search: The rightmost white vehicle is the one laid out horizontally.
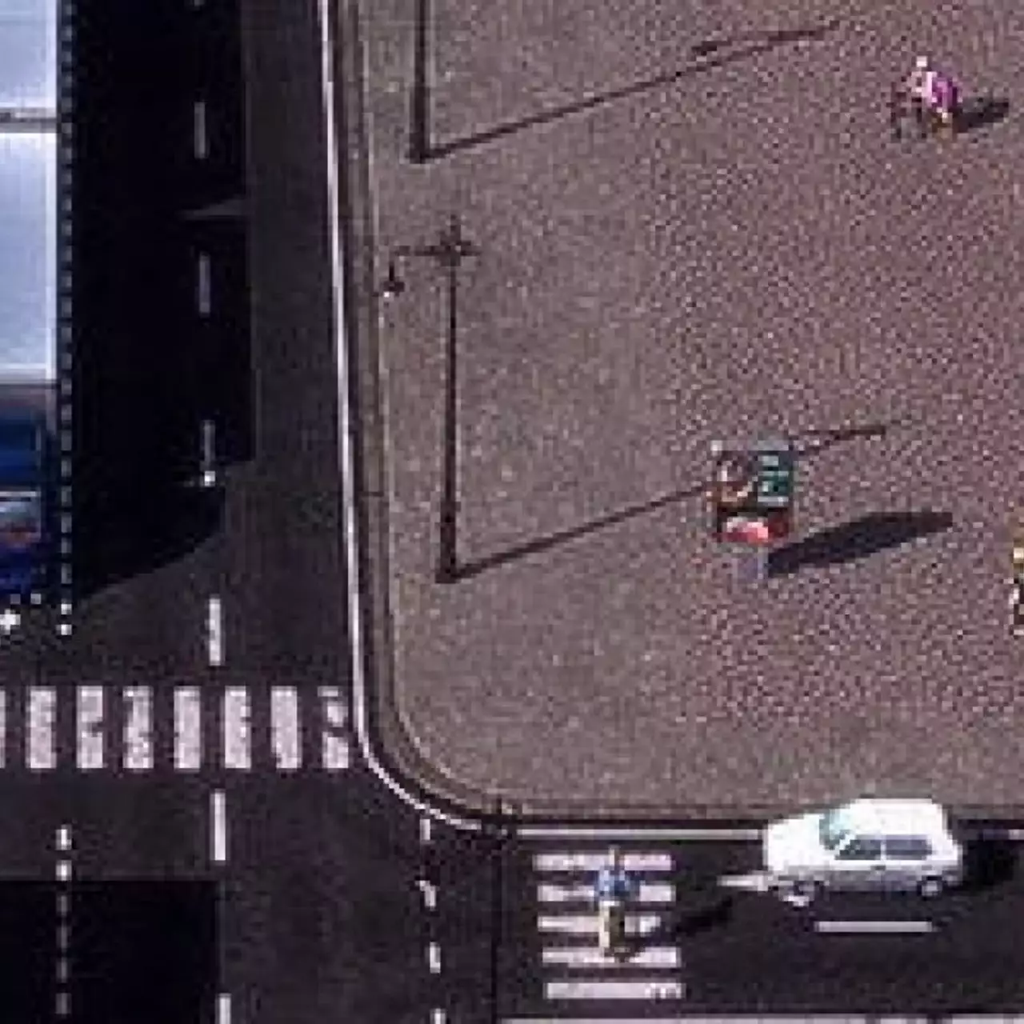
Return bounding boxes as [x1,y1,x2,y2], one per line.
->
[761,797,966,901]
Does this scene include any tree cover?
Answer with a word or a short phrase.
No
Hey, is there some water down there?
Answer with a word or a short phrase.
No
